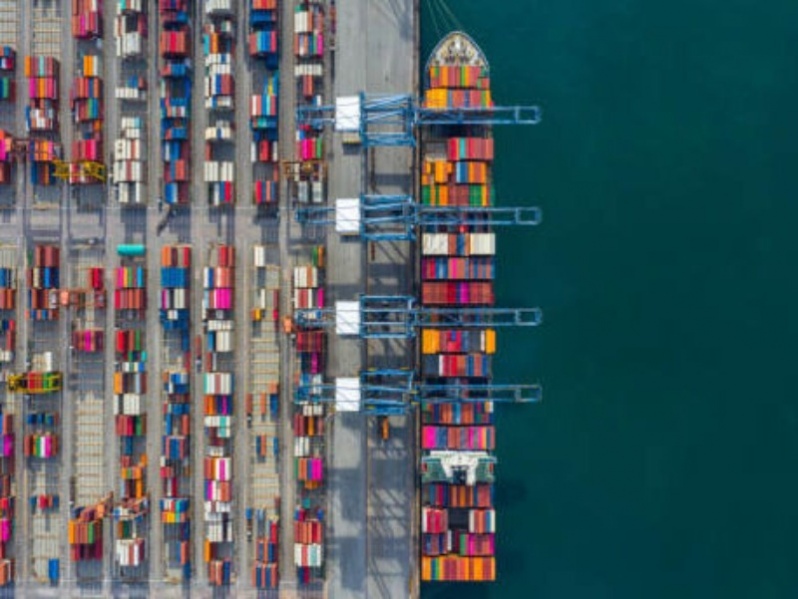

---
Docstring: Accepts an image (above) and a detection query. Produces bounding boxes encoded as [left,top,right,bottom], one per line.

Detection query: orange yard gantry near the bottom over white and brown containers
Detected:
[94,493,149,520]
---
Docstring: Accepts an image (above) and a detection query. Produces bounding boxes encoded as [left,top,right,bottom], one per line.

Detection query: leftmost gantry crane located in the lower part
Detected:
[6,369,62,392]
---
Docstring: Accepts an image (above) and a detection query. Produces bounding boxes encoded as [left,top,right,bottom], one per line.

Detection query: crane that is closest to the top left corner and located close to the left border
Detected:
[6,136,62,161]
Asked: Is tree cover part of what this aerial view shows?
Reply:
No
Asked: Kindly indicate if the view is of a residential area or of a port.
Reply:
port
